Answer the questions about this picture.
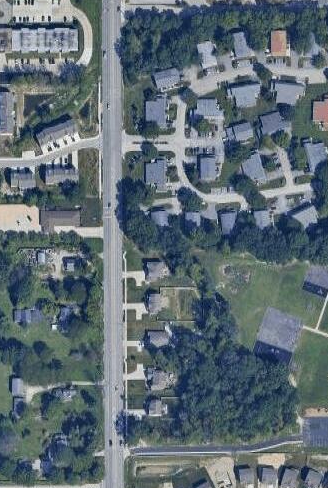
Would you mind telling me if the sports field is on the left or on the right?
right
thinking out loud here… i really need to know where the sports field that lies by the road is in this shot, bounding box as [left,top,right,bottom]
[196,251,328,407]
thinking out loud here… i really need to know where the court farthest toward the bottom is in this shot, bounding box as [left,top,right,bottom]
[253,307,302,364]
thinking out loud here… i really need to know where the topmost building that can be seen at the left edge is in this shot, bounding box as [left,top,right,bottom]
[0,27,78,52]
